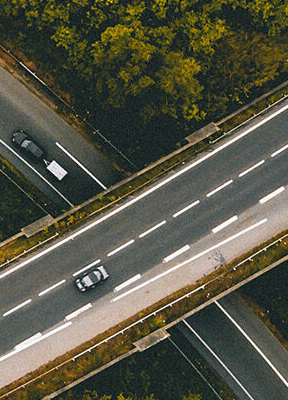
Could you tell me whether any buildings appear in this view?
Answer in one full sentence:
No, the photo shows no building.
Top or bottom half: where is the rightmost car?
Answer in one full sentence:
The rightmost car is in the bottom half of the image.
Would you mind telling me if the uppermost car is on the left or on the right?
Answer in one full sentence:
The uppermost car is on the left side of the image.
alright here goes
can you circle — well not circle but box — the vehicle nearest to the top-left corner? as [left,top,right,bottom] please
[10,129,44,161]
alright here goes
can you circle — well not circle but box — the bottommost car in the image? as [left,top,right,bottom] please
[73,263,108,291]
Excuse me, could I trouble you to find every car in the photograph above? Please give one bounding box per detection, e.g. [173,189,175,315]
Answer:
[10,129,44,161]
[73,263,108,291]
